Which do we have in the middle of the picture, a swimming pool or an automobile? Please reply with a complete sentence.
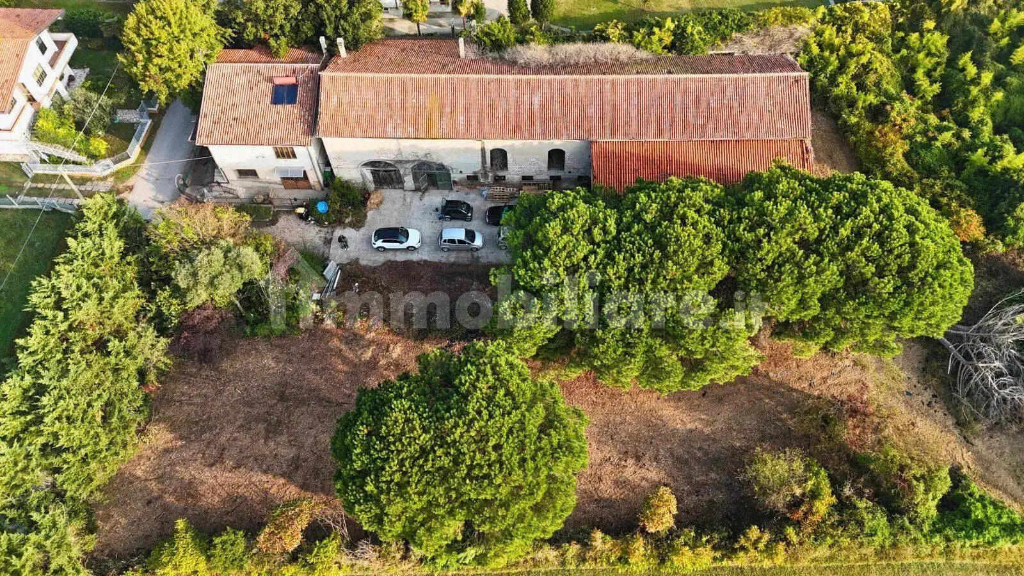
The one visible in the middle of the picture is an automobile.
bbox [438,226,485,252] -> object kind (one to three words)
car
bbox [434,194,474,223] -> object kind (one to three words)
car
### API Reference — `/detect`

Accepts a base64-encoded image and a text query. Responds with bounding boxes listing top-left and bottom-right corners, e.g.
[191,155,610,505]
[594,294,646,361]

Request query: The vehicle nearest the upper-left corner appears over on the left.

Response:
[371,225,422,252]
